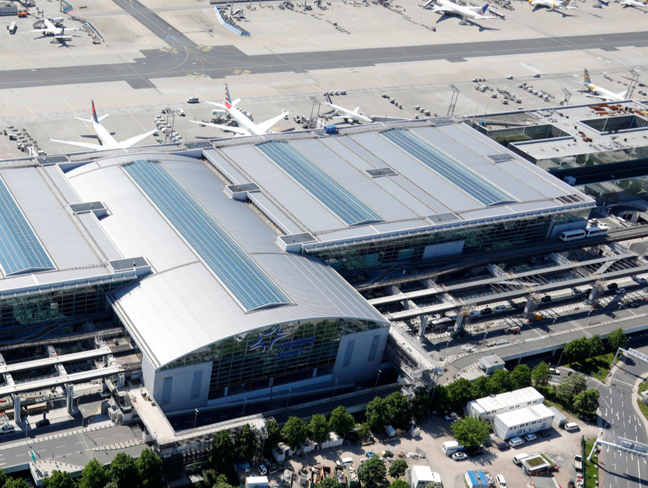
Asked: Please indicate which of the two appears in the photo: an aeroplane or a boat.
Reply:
aeroplane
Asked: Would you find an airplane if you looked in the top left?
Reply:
Yes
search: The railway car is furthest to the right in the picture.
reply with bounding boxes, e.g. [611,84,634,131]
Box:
[588,225,615,240]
